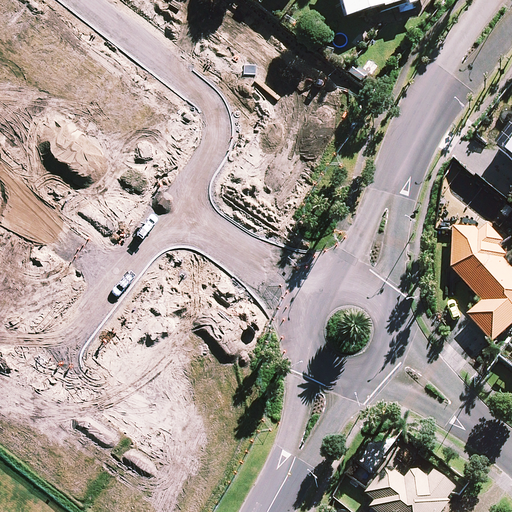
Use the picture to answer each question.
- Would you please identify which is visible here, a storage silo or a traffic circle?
traffic circle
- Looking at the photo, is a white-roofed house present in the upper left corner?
No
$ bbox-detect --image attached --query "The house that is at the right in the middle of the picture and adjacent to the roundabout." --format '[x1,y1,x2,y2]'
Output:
[450,222,512,340]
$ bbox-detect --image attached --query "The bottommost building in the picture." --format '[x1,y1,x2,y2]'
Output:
[364,468,456,512]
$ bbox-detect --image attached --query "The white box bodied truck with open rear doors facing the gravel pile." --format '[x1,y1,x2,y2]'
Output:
[132,214,161,244]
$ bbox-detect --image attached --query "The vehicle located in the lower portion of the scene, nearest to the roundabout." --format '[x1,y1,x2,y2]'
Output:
[446,300,461,321]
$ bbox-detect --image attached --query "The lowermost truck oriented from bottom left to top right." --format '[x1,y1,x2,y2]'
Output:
[111,271,138,296]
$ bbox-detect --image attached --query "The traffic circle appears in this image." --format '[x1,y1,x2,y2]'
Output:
[285,256,416,403]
